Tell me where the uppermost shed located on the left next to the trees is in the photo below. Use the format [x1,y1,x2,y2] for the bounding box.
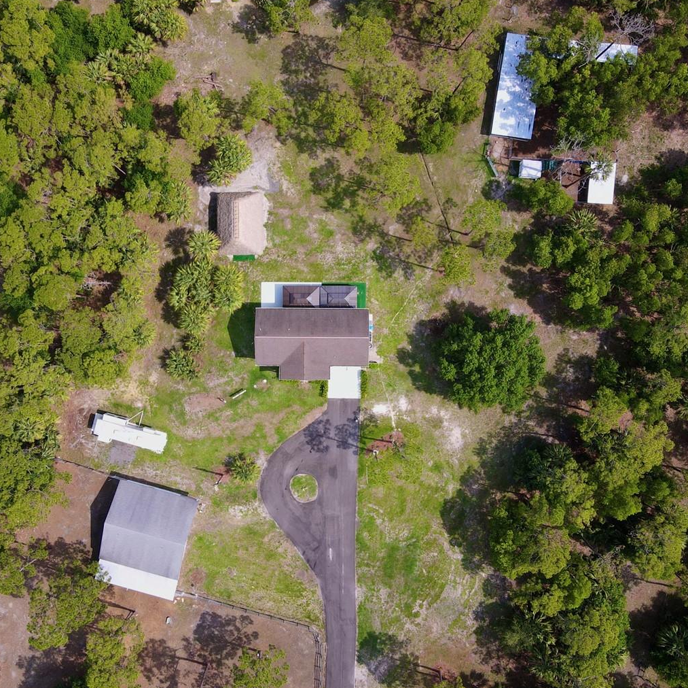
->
[217,191,269,256]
